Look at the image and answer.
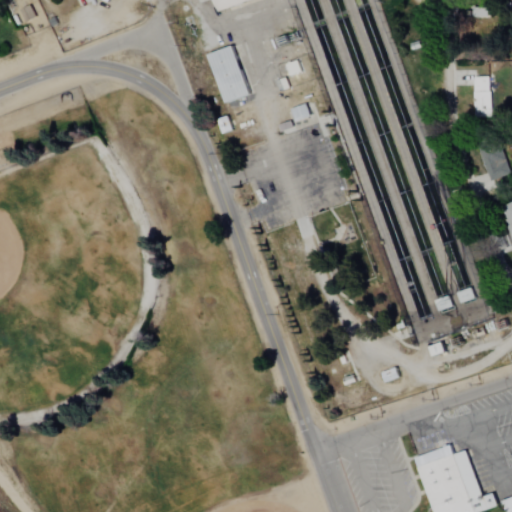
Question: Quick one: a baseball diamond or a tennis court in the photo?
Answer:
baseball diamond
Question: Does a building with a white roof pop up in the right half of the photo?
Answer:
Yes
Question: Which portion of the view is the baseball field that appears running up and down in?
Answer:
left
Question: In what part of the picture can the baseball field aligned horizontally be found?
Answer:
bottom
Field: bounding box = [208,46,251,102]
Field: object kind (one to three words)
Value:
building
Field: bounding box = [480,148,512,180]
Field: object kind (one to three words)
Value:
house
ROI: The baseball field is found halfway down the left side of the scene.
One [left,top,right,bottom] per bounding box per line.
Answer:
[0,209,24,299]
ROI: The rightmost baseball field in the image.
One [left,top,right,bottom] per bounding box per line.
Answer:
[210,473,330,512]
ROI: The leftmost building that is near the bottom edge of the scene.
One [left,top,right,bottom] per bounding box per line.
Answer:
[415,444,502,512]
